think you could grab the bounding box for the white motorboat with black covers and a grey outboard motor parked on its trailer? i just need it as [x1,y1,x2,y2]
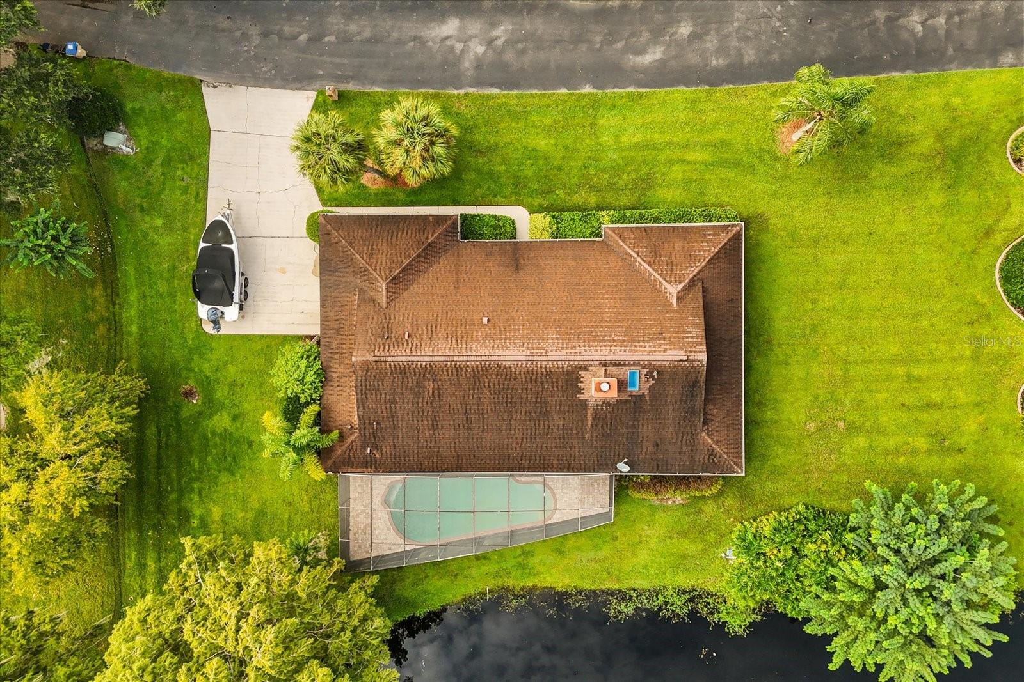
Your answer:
[191,214,246,333]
